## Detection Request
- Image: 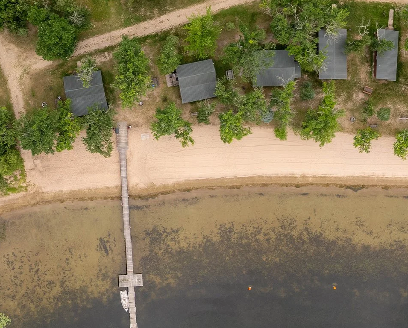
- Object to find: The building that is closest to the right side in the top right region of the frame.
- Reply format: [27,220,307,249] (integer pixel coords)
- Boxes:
[374,28,399,80]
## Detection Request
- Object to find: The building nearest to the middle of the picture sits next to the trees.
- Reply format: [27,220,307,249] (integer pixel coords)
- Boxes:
[177,58,217,103]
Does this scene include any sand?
Yes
